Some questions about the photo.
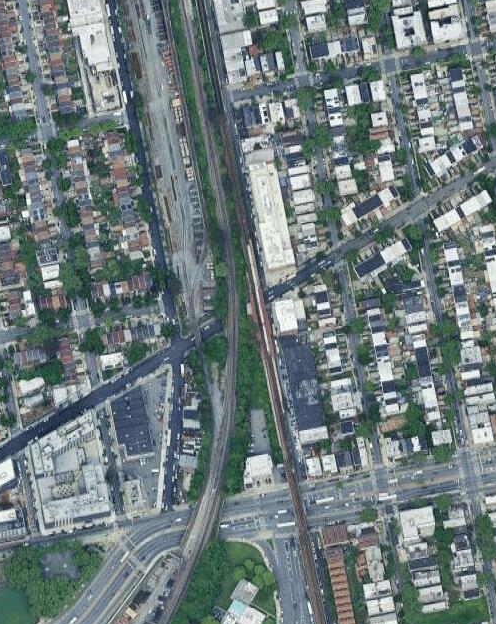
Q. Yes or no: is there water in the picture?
No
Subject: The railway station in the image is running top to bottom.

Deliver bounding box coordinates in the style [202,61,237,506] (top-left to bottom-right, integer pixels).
[244,240,285,402]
